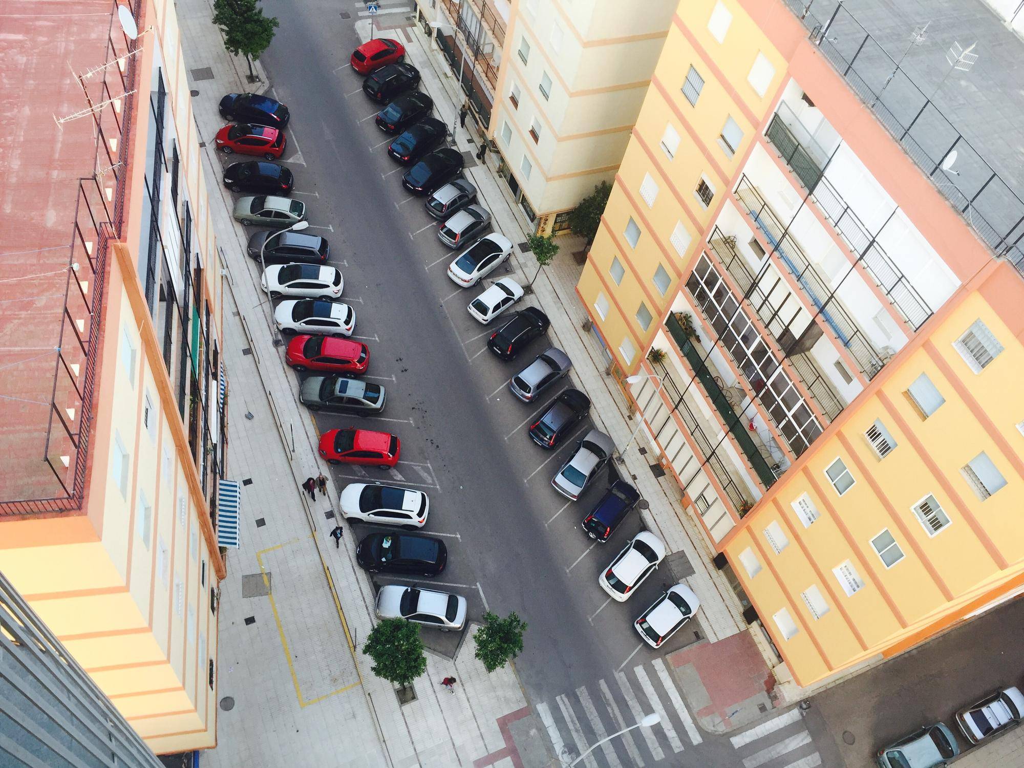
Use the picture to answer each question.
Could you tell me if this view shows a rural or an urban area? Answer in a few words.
urban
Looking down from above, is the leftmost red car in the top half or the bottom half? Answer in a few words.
top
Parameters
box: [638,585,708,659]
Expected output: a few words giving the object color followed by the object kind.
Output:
white car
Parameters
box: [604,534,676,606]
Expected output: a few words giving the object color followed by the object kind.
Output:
white car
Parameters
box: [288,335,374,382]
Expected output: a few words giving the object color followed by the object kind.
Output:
red car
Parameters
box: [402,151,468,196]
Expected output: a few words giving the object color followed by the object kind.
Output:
black car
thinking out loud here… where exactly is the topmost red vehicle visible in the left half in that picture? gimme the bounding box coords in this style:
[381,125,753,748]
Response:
[350,40,407,77]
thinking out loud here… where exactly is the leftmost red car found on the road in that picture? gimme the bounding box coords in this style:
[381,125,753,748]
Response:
[214,122,286,159]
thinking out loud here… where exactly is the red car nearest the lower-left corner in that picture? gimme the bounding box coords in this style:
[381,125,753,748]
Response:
[320,426,403,472]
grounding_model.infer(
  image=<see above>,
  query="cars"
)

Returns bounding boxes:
[358,534,450,583]
[373,95,437,136]
[402,151,468,196]
[386,121,452,165]
[277,296,359,340]
[549,436,622,504]
[320,426,403,472]
[529,393,596,451]
[424,180,480,222]
[288,335,374,382]
[301,378,390,423]
[488,310,555,364]
[468,282,526,328]
[249,230,332,266]
[340,483,434,534]
[581,483,648,551]
[446,235,517,288]
[882,724,968,768]
[375,586,470,636]
[362,65,423,103]
[604,534,676,606]
[438,210,495,253]
[217,94,289,131]
[638,585,708,659]
[263,260,346,301]
[350,40,407,77]
[508,351,576,405]
[214,122,286,159]
[233,194,311,233]
[223,161,296,198]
